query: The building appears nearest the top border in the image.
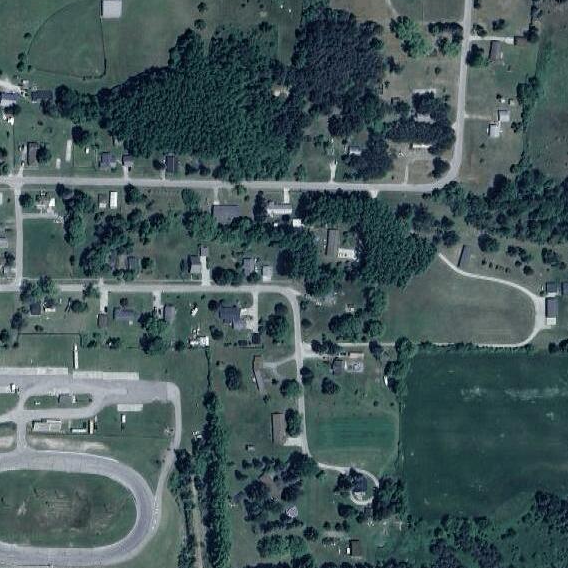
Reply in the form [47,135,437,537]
[102,0,123,19]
